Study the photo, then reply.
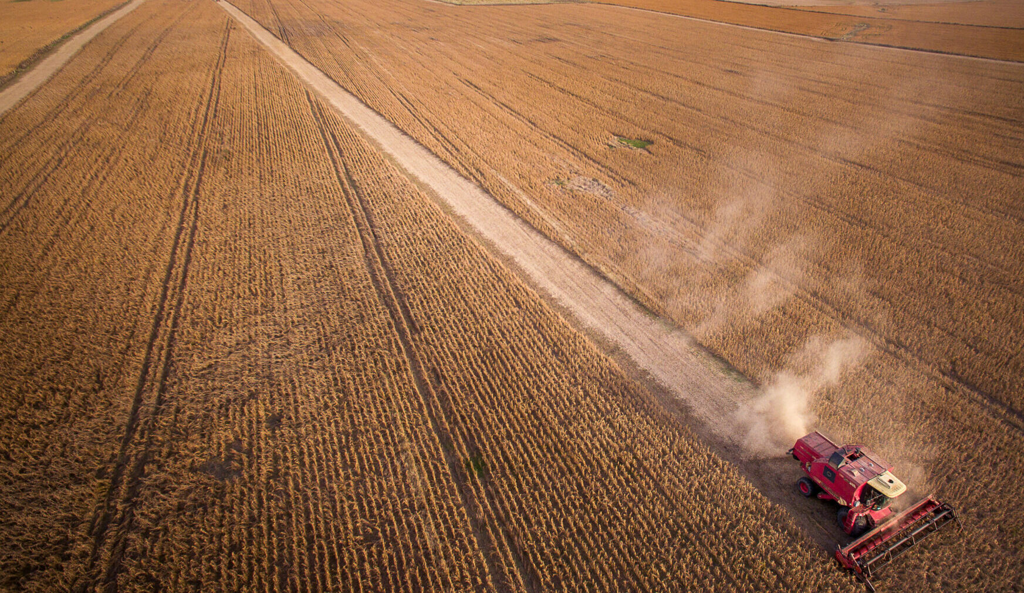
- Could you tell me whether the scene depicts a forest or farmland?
farmland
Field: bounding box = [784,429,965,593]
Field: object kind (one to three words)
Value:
work vehicle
